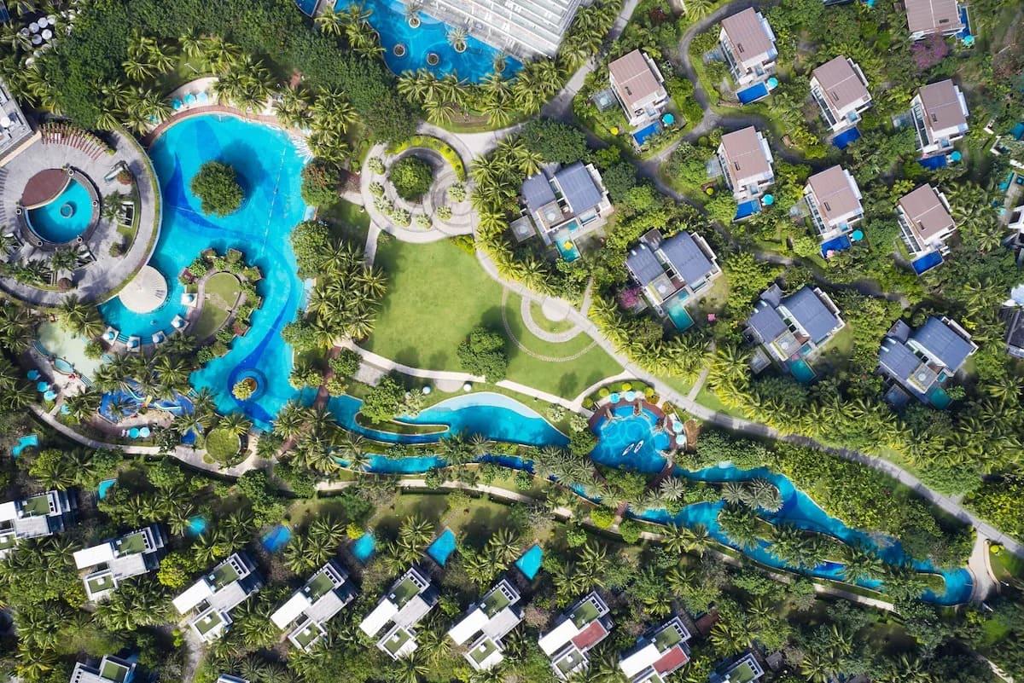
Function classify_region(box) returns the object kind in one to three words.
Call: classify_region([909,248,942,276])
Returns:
swimming pool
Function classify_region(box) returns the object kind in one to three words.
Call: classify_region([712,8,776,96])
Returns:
house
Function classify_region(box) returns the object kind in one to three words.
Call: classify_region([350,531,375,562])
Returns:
swimming pool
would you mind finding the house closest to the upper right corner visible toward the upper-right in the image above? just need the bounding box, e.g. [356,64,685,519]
[890,0,964,48]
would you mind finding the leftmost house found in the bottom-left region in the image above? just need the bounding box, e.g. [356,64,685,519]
[0,486,80,552]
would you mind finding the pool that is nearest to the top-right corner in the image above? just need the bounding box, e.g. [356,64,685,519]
[954,6,969,41]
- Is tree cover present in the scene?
Yes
